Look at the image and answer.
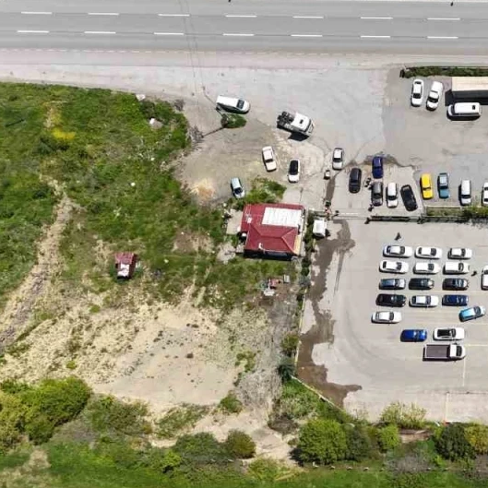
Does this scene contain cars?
Yes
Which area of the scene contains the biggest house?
center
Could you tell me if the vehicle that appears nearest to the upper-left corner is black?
No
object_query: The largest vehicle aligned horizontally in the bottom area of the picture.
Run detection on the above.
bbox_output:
[423,344,466,360]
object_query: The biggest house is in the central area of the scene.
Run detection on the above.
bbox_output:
[241,205,307,255]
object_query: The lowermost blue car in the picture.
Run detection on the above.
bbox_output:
[400,329,428,341]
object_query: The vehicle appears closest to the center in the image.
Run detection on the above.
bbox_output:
[228,175,247,200]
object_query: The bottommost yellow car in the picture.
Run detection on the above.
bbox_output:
[421,172,434,201]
